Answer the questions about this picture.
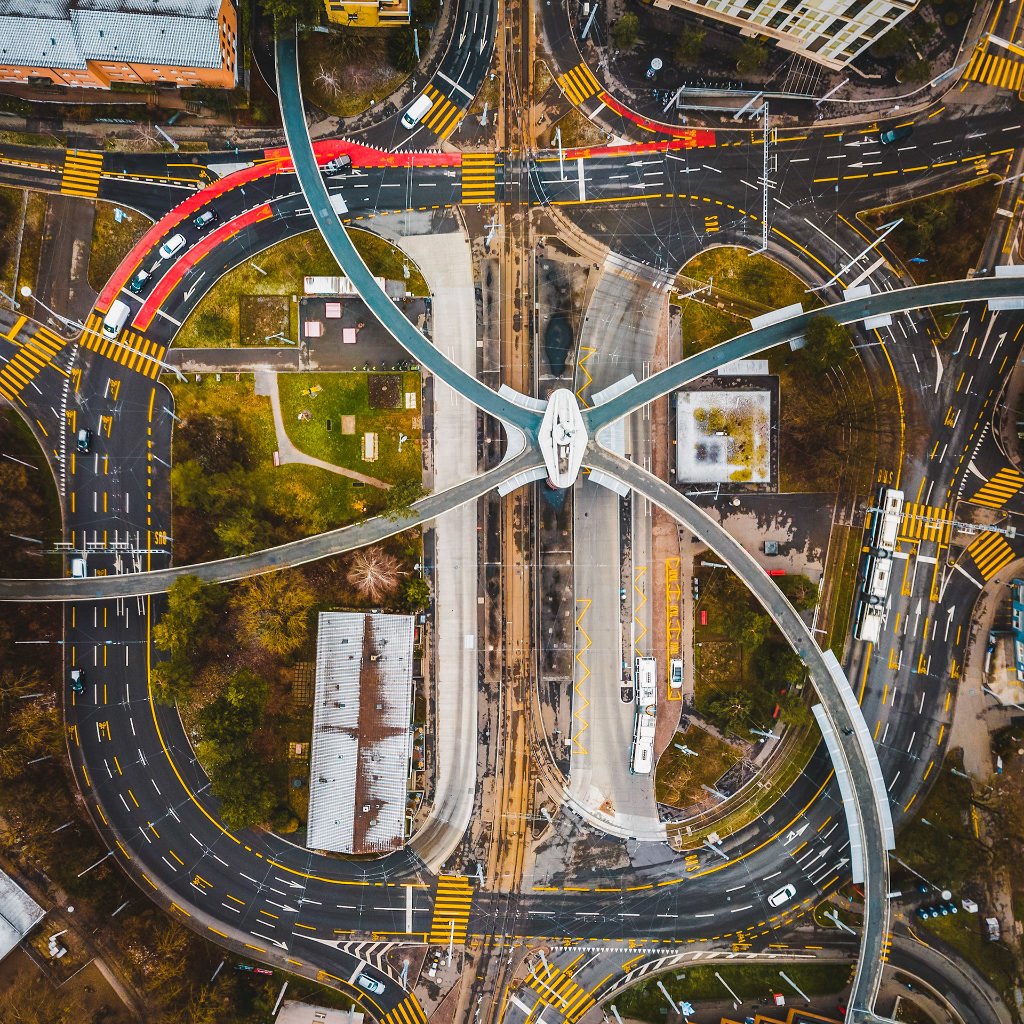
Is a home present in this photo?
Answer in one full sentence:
Yes, the picture does show a home.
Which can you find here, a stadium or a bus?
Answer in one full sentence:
There is a bus in the scene.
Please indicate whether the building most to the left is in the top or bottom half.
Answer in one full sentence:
Seen from above, the building most to the left lies in the bottom half of the view.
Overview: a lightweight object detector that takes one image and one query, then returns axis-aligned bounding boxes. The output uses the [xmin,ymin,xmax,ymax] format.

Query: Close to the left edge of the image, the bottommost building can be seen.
[0,860,48,958]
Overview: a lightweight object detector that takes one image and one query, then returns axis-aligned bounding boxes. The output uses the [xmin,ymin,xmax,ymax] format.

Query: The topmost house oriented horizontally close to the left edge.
[0,0,239,96]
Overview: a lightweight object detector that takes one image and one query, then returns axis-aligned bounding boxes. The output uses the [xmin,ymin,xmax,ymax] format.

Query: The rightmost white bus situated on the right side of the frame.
[853,487,904,654]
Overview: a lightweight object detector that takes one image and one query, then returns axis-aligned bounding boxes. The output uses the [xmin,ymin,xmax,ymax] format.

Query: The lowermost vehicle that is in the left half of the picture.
[355,971,387,994]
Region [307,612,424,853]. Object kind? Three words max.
house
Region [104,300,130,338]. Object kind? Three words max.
vehicle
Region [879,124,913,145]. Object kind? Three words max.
car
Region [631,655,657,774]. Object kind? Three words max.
bus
